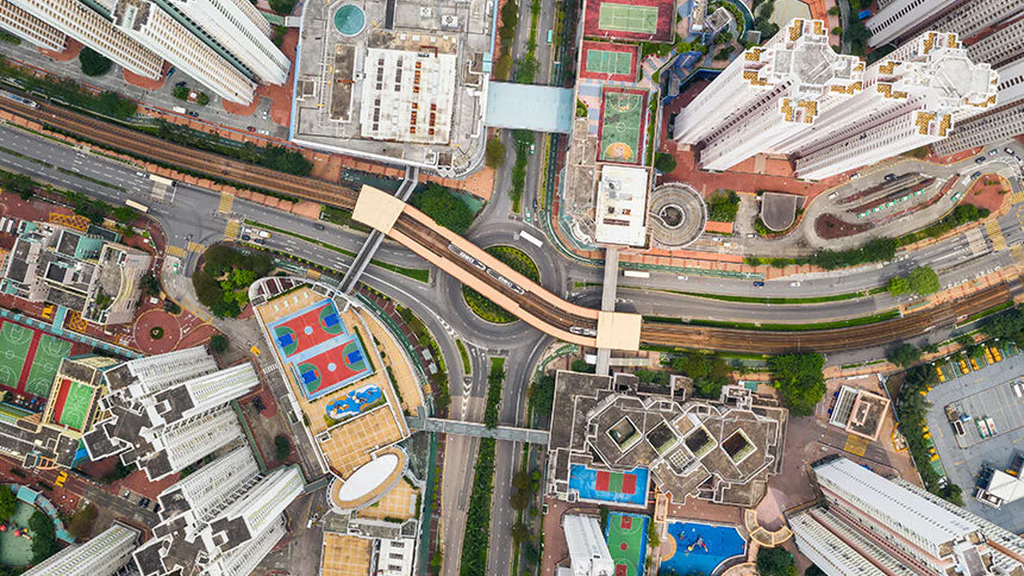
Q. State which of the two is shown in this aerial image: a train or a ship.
train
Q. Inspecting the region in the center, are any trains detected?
Yes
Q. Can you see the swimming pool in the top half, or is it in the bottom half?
bottom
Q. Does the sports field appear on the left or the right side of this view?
left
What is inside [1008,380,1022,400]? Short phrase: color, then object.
white vehicle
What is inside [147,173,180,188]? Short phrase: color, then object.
white vehicle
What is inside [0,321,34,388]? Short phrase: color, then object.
green basketball court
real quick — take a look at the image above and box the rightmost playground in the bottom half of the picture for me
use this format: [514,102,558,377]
[326,384,382,419]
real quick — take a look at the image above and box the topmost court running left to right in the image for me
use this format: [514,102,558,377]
[584,0,677,42]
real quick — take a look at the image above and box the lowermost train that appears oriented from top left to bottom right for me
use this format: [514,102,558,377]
[486,268,526,295]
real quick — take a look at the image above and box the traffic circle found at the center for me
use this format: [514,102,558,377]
[432,218,571,353]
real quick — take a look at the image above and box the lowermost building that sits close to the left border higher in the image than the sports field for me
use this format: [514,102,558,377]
[0,221,163,324]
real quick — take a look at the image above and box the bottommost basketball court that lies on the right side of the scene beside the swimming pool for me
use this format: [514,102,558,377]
[607,512,650,576]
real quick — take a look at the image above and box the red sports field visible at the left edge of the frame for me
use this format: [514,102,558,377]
[0,318,75,401]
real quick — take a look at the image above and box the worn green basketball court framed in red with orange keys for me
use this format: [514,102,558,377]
[597,86,650,165]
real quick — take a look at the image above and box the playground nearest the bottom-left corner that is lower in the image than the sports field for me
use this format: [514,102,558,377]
[0,499,36,568]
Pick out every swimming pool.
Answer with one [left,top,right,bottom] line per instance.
[654,520,750,576]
